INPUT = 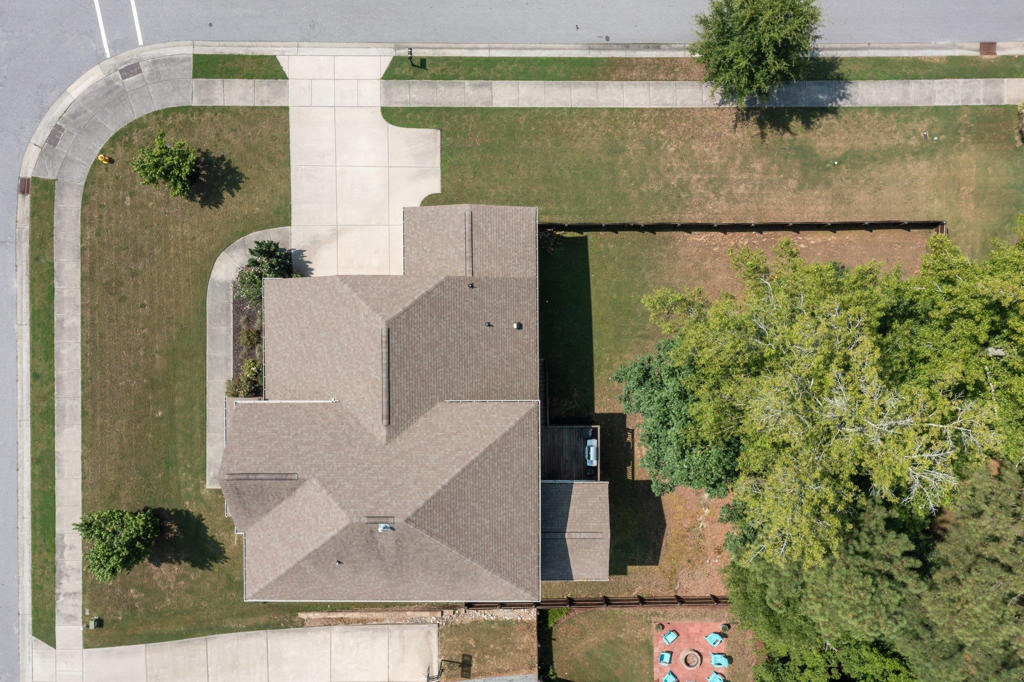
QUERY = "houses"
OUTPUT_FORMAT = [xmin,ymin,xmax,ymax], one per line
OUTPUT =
[218,202,610,604]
